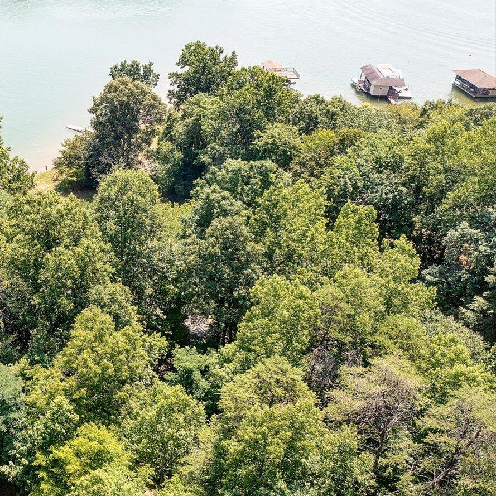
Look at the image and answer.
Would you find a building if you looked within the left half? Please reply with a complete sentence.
No, no building is visible within the left half.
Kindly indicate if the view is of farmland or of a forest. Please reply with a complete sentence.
The area seen from above is a forest.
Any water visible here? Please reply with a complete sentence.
Yes, water shows up in the scene.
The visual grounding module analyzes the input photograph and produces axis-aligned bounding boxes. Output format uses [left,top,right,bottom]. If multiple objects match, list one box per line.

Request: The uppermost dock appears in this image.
[242,57,301,89]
